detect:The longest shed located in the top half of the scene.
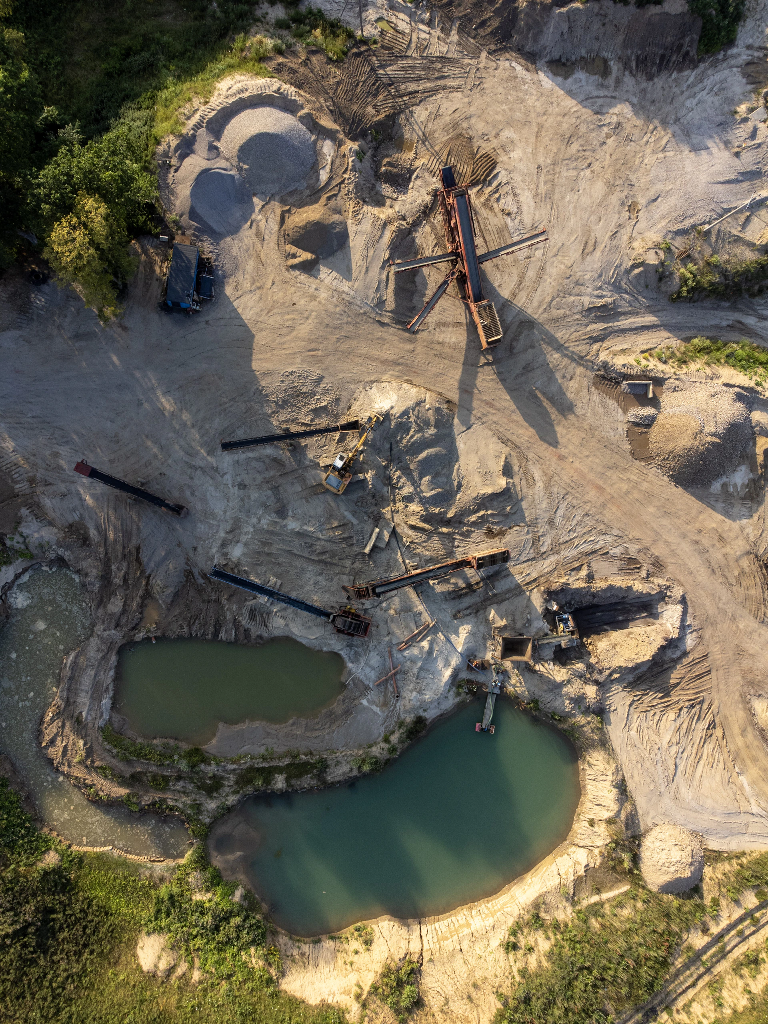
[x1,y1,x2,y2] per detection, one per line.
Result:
[166,242,203,311]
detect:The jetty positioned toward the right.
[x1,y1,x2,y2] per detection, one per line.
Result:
[474,692,497,734]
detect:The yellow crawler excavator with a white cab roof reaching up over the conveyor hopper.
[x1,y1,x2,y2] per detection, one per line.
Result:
[321,413,378,491]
